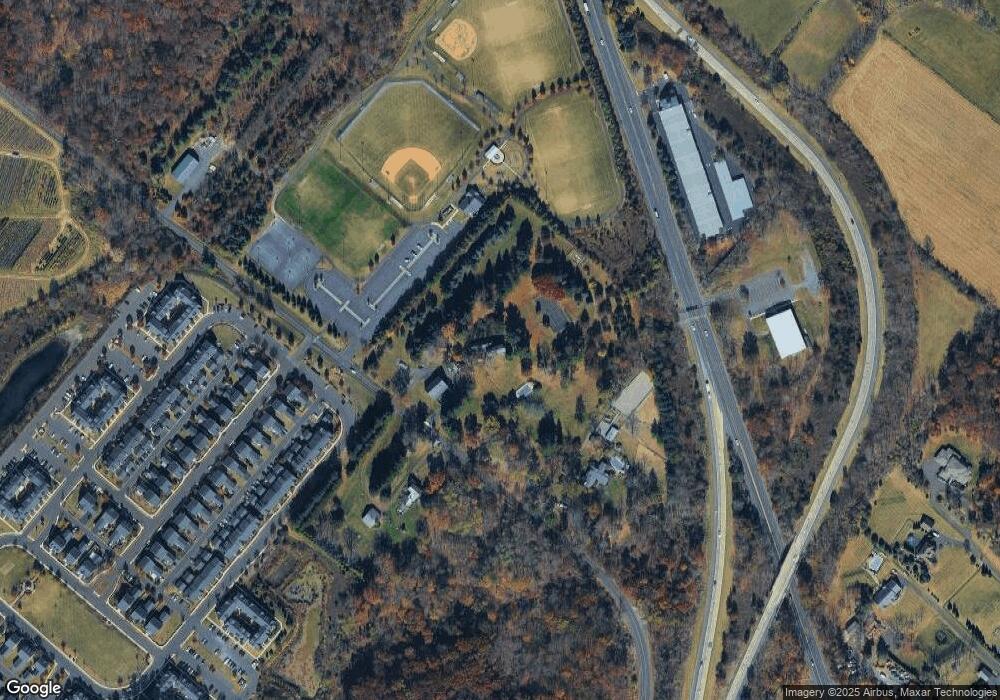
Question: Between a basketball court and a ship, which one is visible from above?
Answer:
basketball court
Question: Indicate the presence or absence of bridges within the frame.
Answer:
Yes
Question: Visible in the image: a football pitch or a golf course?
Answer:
football pitch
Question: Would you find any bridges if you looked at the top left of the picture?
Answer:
No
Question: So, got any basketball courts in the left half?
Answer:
Yes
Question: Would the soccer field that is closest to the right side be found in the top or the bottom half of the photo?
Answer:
top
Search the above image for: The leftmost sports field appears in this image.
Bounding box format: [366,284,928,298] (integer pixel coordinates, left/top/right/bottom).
[274,145,402,276]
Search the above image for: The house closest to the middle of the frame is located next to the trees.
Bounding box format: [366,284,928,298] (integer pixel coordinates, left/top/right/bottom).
[471,334,505,353]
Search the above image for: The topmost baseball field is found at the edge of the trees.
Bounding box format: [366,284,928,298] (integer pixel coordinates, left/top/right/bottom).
[436,0,582,112]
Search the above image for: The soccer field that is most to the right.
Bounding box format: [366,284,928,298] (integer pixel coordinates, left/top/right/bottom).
[523,92,621,217]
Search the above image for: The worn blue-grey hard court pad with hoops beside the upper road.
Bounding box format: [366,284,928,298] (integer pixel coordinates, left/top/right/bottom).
[249,218,322,288]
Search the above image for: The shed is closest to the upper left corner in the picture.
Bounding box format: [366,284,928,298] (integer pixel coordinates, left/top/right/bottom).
[170,151,202,185]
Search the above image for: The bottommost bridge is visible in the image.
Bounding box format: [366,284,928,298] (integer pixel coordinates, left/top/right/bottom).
[760,518,812,627]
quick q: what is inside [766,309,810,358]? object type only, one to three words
building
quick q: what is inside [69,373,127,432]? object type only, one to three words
building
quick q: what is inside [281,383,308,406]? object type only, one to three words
house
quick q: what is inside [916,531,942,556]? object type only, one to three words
house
